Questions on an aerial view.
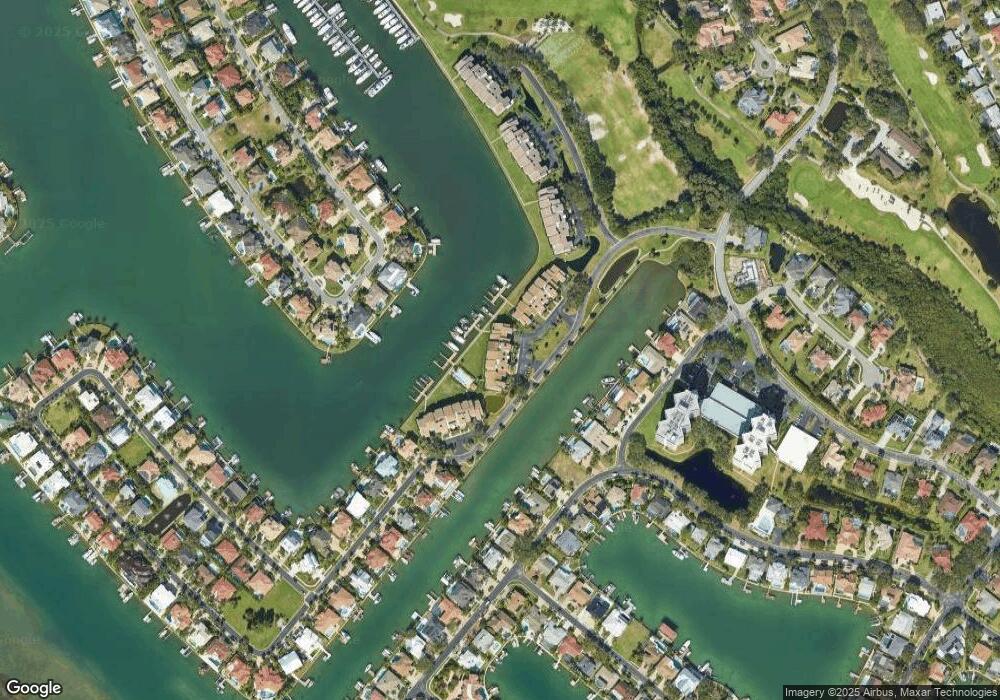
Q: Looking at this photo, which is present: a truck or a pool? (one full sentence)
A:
There is a pool in the scene.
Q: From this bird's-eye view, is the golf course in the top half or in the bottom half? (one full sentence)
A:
The golf course sits in the top half of the picture.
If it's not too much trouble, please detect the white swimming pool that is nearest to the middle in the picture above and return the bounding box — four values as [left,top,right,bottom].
[450,363,476,388]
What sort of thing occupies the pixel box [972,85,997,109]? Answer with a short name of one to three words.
house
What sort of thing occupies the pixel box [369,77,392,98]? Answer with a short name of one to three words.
boat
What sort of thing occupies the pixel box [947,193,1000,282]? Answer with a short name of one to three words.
pond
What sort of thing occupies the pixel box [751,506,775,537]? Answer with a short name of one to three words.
swimming pool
